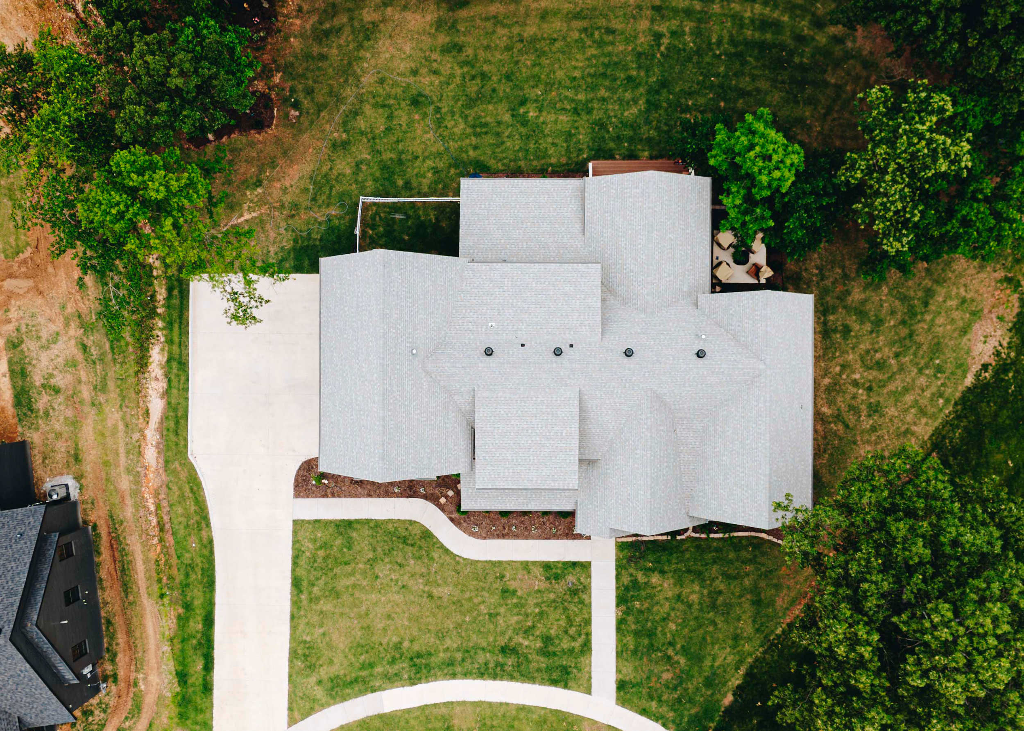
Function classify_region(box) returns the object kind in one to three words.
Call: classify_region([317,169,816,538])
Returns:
house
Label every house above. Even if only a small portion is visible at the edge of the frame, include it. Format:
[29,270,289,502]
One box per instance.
[0,443,105,731]
[317,169,816,538]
